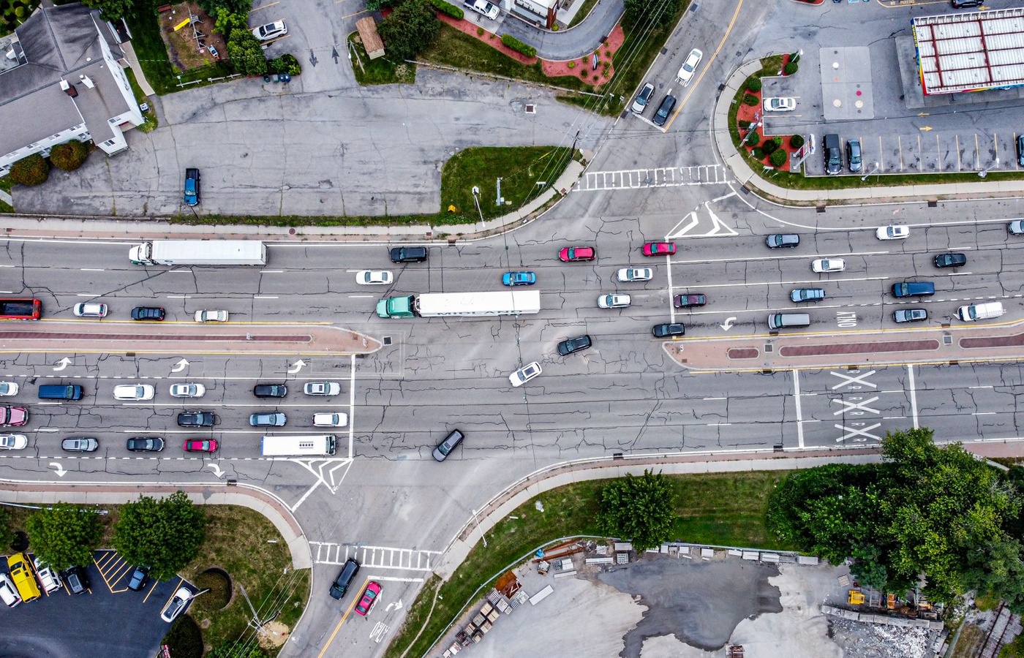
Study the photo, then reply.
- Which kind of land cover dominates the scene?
paved ground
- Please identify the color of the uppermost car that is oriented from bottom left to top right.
white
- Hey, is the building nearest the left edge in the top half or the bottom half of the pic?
top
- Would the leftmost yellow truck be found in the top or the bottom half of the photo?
bottom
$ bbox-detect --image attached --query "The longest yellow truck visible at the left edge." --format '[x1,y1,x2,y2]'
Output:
[8,552,44,605]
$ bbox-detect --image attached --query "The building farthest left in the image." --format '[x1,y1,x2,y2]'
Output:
[0,2,142,174]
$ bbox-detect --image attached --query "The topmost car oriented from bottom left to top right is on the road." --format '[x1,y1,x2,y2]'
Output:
[674,46,705,86]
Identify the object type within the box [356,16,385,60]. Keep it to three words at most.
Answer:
shed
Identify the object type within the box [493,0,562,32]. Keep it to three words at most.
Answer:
building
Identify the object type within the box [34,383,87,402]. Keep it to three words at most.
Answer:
vehicle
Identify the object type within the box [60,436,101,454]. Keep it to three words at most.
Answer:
car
